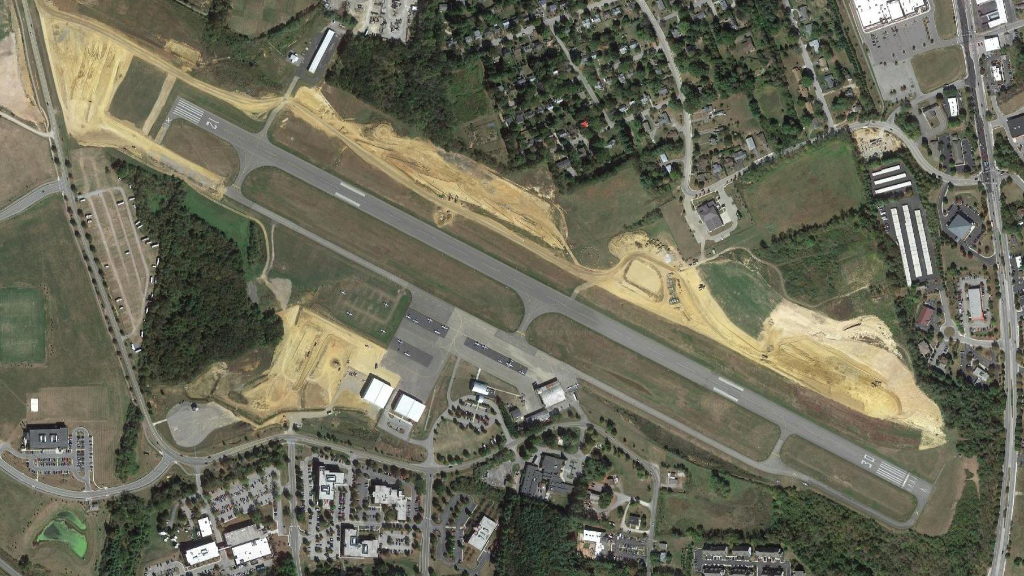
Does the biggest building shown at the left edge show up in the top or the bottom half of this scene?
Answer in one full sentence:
The biggest building shown at the left edge is in the bottom half of the image.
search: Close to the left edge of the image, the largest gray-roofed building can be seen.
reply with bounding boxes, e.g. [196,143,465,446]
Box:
[29,428,68,449]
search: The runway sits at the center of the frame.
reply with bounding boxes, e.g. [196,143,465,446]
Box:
[171,97,933,500]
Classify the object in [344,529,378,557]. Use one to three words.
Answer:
building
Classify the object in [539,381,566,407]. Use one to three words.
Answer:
hangar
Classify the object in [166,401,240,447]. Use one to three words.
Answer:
helipad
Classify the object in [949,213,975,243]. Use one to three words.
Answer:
building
